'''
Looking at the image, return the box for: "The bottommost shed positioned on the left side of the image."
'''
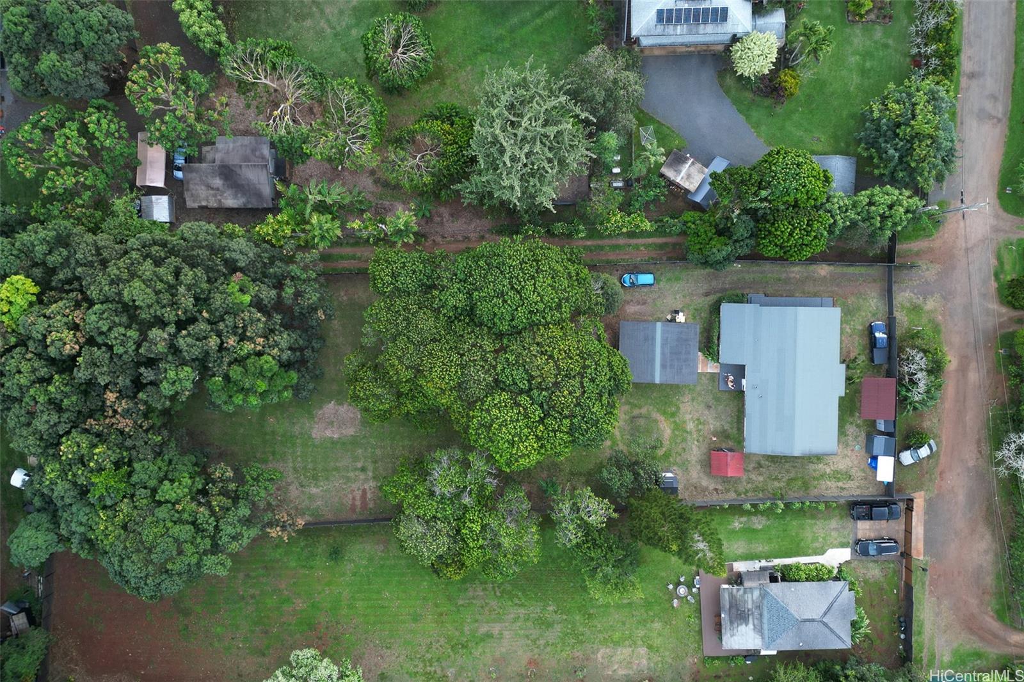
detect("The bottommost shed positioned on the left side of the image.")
[0,595,38,623]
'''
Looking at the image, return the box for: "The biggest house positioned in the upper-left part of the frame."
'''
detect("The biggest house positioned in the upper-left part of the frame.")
[182,137,275,209]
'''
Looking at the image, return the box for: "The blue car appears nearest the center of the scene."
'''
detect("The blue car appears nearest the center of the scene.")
[622,271,657,289]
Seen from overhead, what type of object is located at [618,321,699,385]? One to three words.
building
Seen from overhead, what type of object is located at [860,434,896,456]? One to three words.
shed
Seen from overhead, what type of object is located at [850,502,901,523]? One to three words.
truck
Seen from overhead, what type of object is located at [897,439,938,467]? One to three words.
car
